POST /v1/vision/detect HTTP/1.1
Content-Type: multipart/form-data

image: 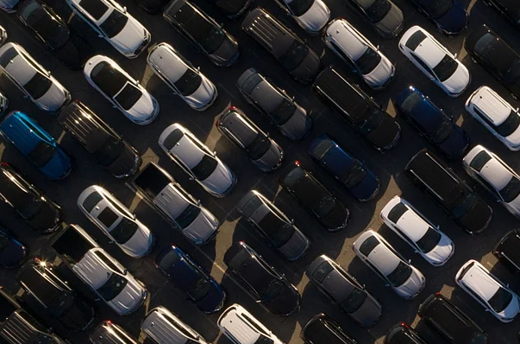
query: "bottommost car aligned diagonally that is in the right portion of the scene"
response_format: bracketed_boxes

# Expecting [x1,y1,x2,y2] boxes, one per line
[416,291,498,344]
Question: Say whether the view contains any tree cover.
No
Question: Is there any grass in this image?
No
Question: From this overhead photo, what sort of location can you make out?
parking lot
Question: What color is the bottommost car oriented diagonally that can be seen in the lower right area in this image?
black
